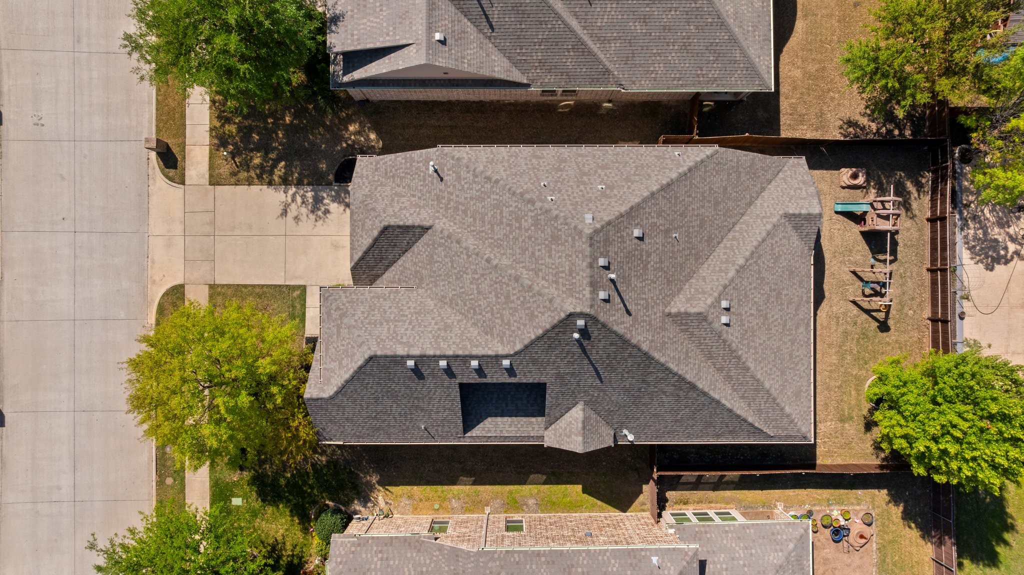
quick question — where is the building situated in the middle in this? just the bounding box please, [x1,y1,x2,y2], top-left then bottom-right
[304,144,822,453]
